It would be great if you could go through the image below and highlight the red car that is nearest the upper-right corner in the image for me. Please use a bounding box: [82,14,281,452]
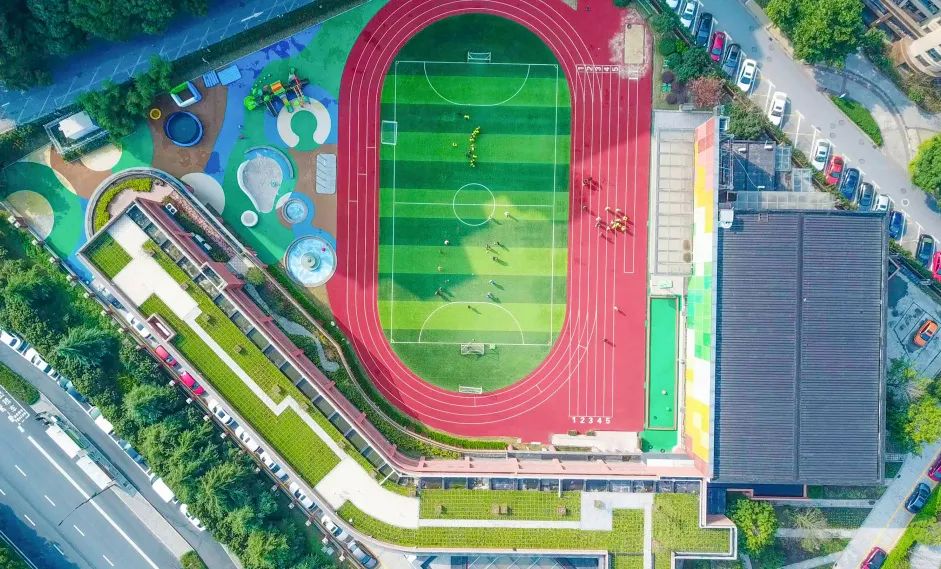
[823,154,844,185]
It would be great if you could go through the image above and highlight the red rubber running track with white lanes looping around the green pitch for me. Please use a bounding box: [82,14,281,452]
[326,0,663,440]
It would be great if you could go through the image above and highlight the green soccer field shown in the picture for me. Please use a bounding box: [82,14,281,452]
[379,12,571,393]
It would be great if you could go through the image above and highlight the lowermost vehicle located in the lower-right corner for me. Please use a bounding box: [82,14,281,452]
[861,544,888,569]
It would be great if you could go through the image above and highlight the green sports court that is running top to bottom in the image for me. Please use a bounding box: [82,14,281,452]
[641,296,680,452]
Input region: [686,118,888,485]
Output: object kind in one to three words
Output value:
building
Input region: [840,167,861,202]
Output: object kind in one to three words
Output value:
car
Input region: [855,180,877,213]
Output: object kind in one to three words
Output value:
car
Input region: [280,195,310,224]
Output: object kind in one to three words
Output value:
fountain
